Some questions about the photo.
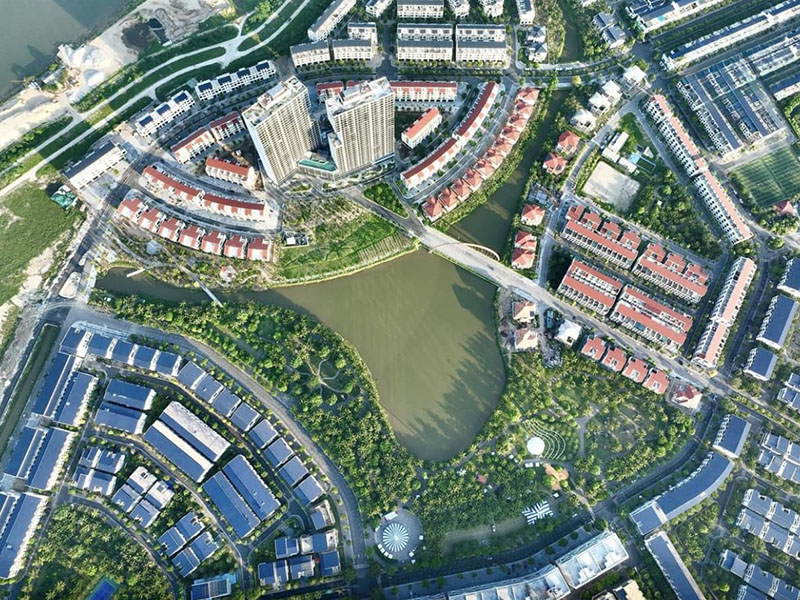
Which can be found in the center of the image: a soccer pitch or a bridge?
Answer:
bridge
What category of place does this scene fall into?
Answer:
residential area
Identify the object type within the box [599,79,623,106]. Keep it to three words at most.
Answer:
house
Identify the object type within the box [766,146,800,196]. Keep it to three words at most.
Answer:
soccer field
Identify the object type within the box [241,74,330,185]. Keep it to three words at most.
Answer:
building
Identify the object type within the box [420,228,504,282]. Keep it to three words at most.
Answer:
bridge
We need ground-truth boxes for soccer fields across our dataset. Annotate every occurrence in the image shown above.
[766,146,800,196]
[732,160,786,206]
